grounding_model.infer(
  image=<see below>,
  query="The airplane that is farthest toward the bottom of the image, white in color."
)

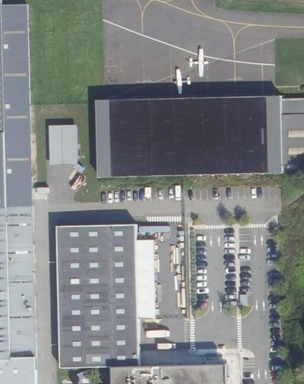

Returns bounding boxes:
[174,68,192,94]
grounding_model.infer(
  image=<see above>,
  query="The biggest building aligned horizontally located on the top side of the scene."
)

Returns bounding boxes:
[94,94,284,178]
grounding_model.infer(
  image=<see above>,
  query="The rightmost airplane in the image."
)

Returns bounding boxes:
[188,48,208,76]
